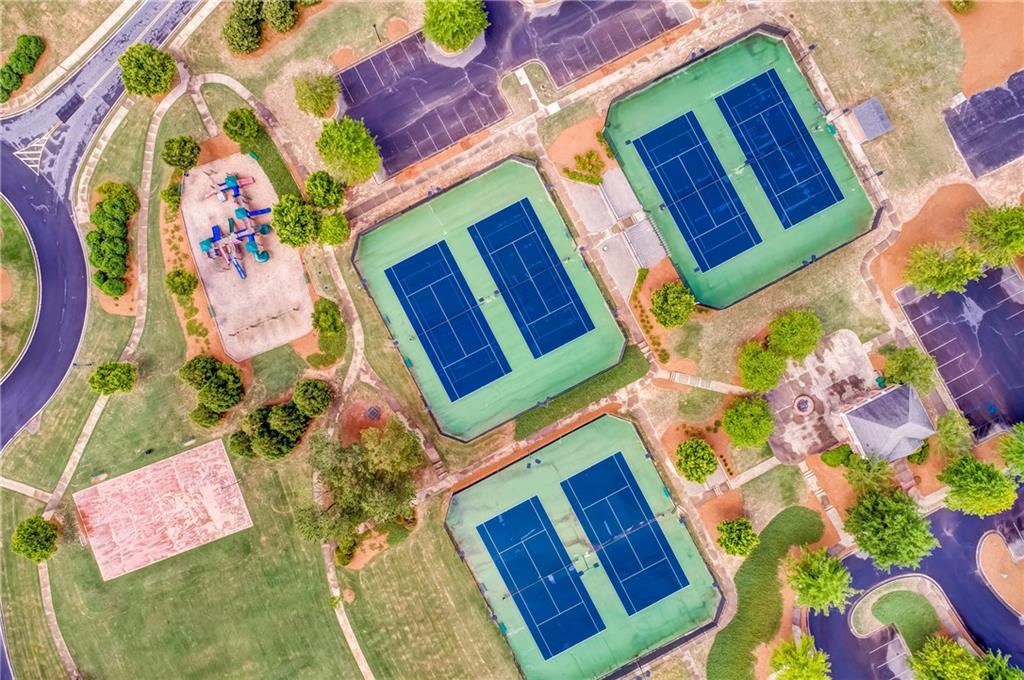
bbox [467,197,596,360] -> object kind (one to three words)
tennis court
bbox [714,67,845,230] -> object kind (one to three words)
tennis court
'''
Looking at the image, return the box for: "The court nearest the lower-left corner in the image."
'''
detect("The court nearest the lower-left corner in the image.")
[71,439,254,582]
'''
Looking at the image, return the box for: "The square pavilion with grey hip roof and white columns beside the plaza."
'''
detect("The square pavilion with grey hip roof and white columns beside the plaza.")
[834,384,935,461]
